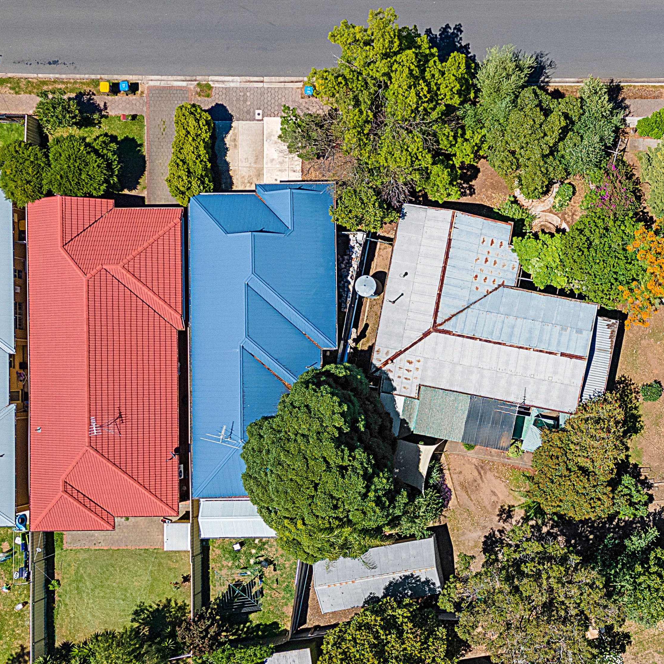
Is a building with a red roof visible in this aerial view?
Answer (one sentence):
Yes, this view includes a building with a red roof.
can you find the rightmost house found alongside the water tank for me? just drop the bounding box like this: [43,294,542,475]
[369,201,601,415]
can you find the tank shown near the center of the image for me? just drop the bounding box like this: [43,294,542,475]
[355,275,381,297]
